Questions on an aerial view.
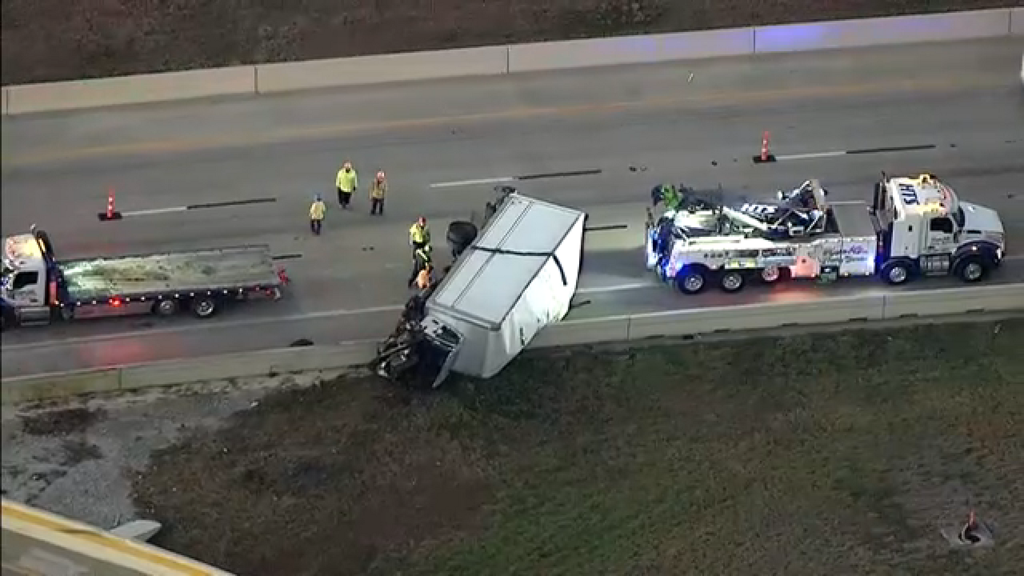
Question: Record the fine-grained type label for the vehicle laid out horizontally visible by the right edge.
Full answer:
The vehicle laid out horizontally visible by the right edge can be classified as a truck.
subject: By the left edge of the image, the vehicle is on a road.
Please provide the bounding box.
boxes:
[0,221,288,333]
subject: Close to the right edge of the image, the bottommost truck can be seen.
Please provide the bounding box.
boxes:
[642,168,1006,292]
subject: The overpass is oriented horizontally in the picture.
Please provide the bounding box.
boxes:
[0,498,233,576]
